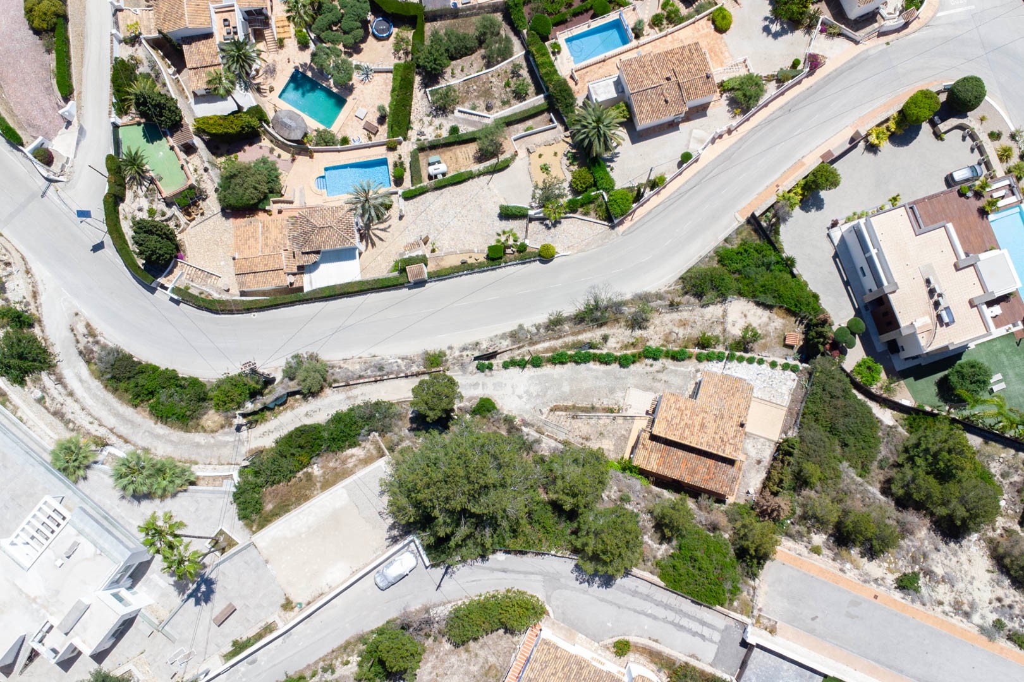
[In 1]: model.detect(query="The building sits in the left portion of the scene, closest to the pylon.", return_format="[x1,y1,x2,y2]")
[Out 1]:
[234,203,362,291]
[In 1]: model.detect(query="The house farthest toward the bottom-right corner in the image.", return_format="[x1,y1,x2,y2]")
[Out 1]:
[739,644,824,682]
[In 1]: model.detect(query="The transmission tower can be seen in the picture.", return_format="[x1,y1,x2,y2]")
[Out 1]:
[226,358,283,390]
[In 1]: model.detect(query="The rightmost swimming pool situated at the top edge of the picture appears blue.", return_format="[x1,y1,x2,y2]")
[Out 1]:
[562,15,634,67]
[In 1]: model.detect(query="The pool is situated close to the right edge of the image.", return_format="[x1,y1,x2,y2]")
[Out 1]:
[988,204,1024,289]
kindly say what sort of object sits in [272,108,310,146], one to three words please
gazebo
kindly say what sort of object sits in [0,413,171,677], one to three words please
house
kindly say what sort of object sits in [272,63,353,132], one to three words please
swimming pool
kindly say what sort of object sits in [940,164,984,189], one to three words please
car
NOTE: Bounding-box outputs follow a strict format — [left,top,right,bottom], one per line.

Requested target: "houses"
[633,371,786,502]
[587,41,717,129]
[739,644,824,682]
[118,0,288,116]
[844,0,900,21]
[503,618,659,682]
[234,203,362,291]
[0,413,171,677]
[817,186,1024,359]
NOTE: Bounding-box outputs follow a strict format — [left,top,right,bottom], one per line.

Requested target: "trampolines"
[368,14,396,41]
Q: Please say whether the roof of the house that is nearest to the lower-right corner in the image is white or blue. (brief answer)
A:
white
